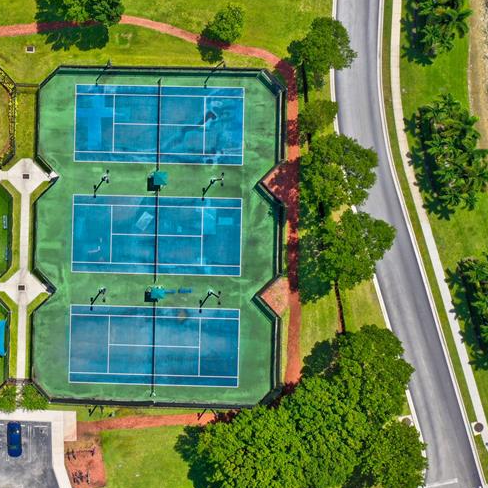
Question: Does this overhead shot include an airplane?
No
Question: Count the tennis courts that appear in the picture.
3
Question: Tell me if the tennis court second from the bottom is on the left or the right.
left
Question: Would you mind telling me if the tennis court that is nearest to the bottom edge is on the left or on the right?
left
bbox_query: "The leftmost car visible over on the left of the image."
[6,423,22,458]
